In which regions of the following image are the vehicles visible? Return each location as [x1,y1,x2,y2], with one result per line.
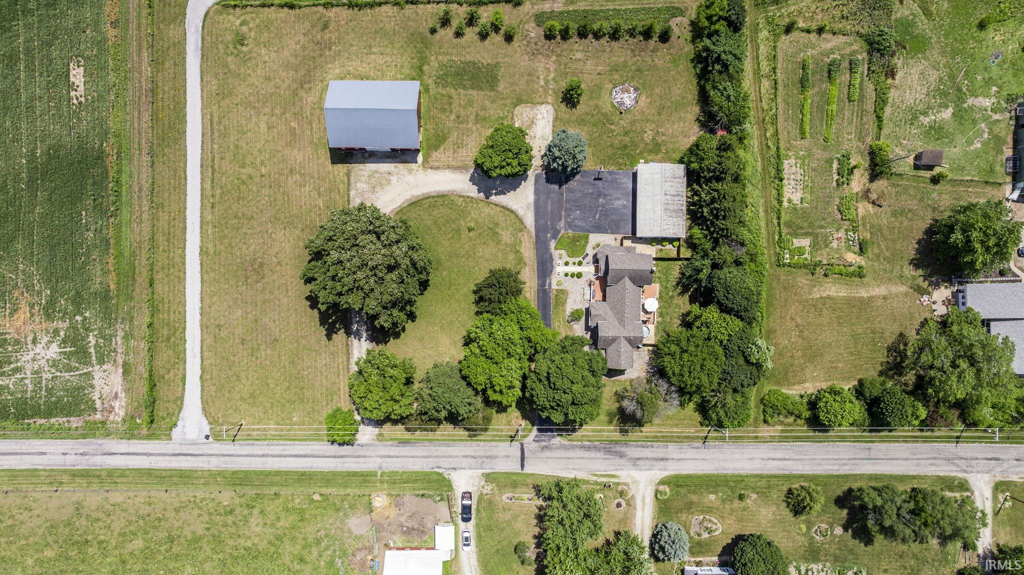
[460,491,472,523]
[460,530,471,554]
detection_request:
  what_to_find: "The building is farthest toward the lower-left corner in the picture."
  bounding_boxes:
[384,547,441,575]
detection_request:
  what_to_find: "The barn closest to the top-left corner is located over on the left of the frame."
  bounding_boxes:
[324,80,423,152]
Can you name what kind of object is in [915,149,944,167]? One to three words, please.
shed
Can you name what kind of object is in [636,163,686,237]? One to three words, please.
building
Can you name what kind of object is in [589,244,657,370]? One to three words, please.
house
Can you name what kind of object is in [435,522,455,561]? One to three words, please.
shed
